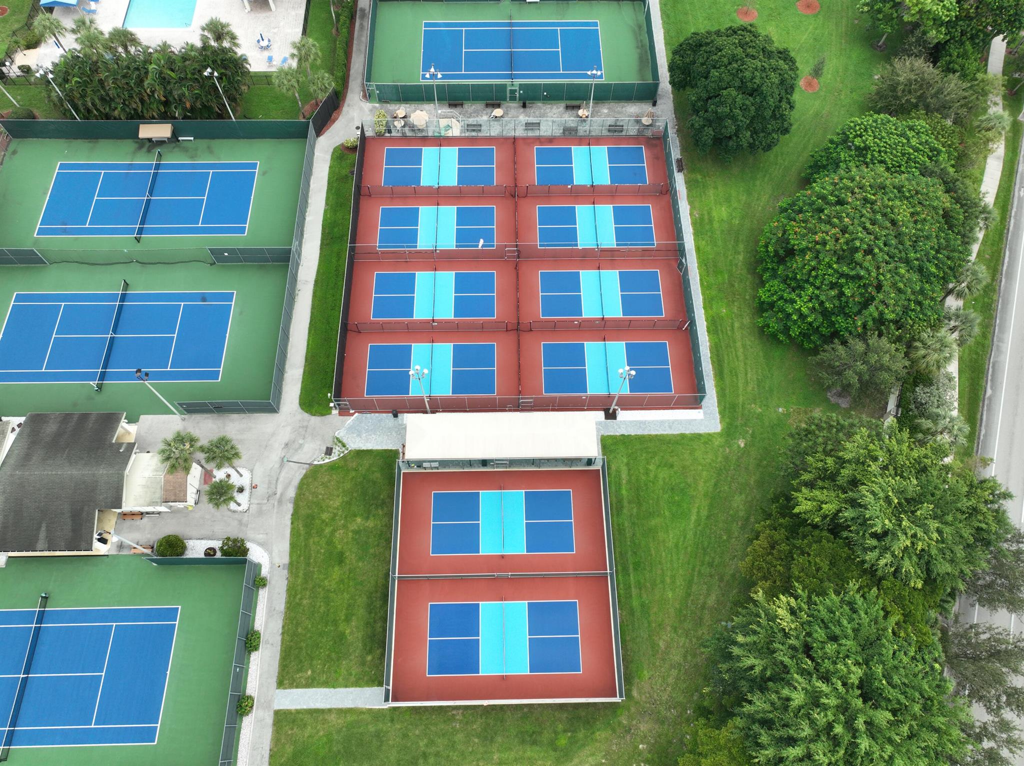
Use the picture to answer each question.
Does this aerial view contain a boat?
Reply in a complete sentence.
No, the frame has no boat in it.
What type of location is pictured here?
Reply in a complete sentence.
It's a sports ground.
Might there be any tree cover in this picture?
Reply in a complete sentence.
Yes, the picture does contain tree cover.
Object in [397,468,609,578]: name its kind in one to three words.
sports court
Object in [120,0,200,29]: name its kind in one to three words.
swimming pool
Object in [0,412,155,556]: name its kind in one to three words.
building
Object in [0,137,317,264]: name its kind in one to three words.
tennis court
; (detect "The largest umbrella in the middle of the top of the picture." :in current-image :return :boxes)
[409,108,430,124]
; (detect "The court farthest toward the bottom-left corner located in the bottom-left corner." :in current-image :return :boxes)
[0,554,263,766]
